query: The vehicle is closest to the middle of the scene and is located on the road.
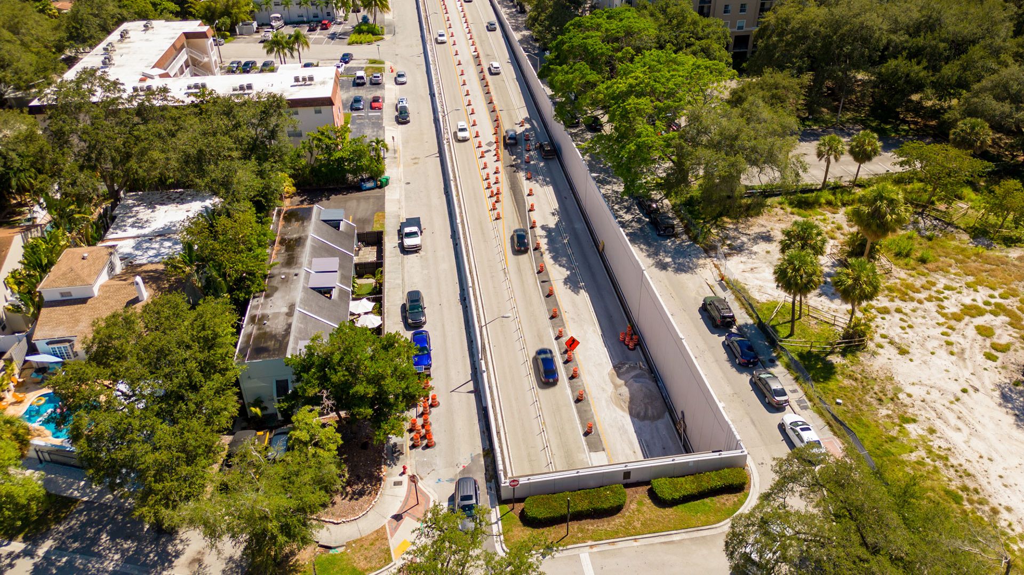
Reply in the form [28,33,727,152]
[511,229,531,254]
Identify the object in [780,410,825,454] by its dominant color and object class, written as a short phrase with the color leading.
white car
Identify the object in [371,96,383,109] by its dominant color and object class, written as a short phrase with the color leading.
red vehicle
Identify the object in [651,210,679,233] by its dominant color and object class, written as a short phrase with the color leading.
black car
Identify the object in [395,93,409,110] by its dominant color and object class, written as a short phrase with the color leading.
white vehicle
